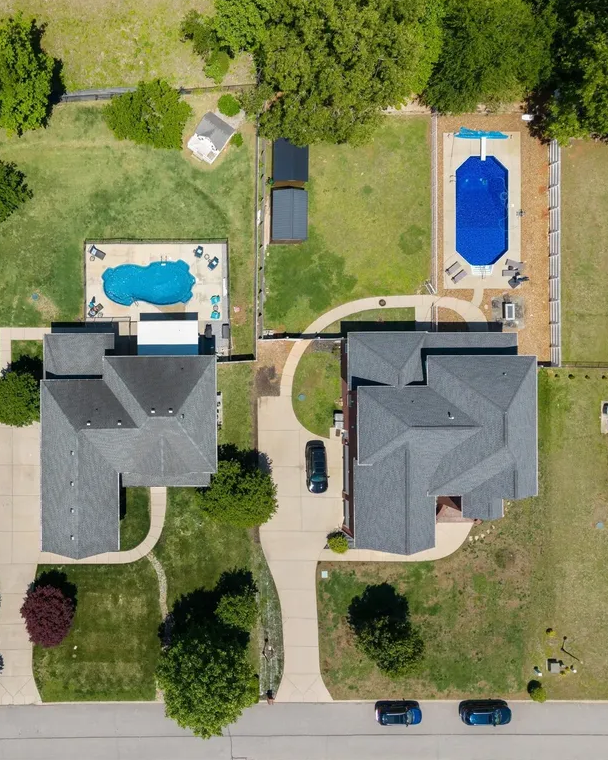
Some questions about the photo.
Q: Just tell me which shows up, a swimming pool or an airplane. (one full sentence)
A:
There is a swimming pool in the scene.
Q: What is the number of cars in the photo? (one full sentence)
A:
The count of cars comes to 3.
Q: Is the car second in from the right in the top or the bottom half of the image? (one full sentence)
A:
The bottom half of the photo is where the car second in from the right is.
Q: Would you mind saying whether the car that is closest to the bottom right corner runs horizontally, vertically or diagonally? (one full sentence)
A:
The car that is closest to the bottom right corner runs horizontally in the image.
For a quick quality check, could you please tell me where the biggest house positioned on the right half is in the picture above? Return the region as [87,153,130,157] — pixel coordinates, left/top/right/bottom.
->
[340,331,538,555]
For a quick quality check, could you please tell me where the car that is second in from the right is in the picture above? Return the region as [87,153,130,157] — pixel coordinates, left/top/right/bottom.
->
[376,702,421,727]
